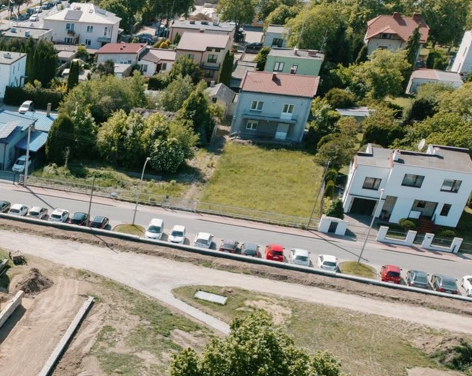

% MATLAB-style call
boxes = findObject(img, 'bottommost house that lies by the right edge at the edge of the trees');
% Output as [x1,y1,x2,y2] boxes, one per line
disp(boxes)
[344,138,472,232]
